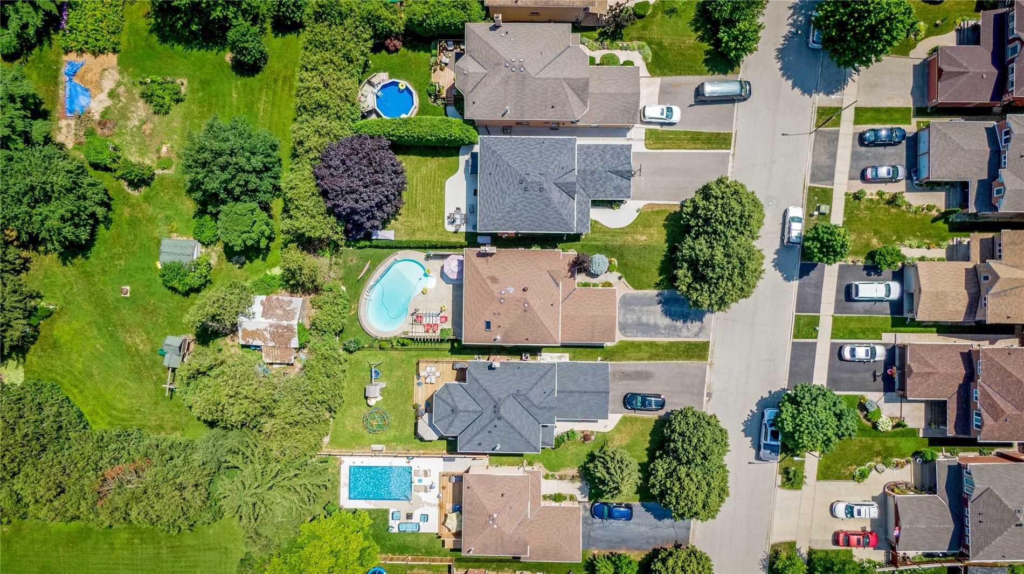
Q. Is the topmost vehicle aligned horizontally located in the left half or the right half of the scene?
right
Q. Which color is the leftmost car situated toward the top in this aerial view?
white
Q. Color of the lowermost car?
red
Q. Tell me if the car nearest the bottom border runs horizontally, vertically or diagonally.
horizontally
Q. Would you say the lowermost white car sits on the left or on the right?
right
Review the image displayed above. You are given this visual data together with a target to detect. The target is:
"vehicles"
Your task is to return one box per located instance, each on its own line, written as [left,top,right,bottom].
[589,501,632,523]
[839,343,884,364]
[781,206,805,248]
[831,499,879,521]
[848,280,899,302]
[858,126,904,146]
[758,406,783,461]
[861,163,904,183]
[622,392,665,413]
[834,528,877,550]
[694,78,749,102]
[641,103,680,124]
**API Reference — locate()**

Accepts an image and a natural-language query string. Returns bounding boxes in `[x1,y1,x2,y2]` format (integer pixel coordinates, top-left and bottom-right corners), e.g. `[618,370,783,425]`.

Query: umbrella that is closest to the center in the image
[439,251,463,283]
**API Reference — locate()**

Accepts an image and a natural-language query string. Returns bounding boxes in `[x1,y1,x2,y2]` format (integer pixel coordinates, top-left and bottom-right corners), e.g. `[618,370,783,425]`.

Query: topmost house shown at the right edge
[927,0,1024,105]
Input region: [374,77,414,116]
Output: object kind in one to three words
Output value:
swimming pool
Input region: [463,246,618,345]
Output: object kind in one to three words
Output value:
house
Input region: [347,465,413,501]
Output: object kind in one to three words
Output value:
swimming pool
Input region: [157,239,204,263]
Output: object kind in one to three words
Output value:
shed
